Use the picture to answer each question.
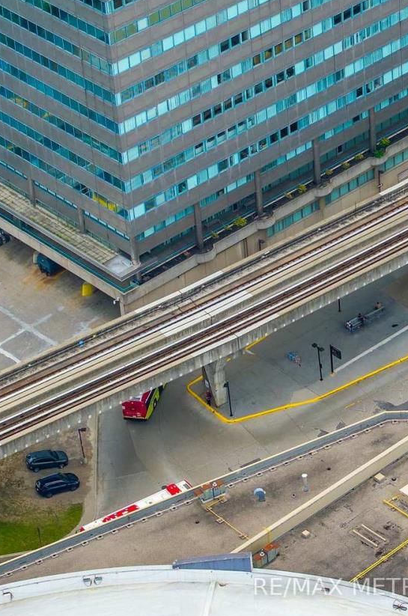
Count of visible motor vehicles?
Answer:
4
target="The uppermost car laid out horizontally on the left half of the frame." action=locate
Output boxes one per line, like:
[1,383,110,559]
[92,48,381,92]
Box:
[23,447,70,471]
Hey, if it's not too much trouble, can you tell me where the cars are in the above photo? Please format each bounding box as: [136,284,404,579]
[34,472,81,497]
[23,447,70,471]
